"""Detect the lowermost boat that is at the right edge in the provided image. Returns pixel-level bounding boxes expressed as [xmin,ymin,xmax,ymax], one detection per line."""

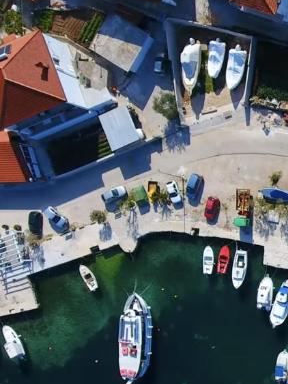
[271,349,288,384]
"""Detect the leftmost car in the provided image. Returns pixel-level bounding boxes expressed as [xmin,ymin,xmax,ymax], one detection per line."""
[28,212,45,238]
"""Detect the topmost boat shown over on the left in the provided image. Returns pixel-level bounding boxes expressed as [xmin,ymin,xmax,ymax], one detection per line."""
[79,254,99,294]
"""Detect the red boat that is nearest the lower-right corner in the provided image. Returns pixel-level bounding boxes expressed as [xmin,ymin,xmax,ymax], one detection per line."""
[215,243,234,277]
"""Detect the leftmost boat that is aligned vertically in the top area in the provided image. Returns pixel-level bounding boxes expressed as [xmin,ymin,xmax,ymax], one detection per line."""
[181,37,202,96]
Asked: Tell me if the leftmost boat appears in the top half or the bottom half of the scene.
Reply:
bottom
